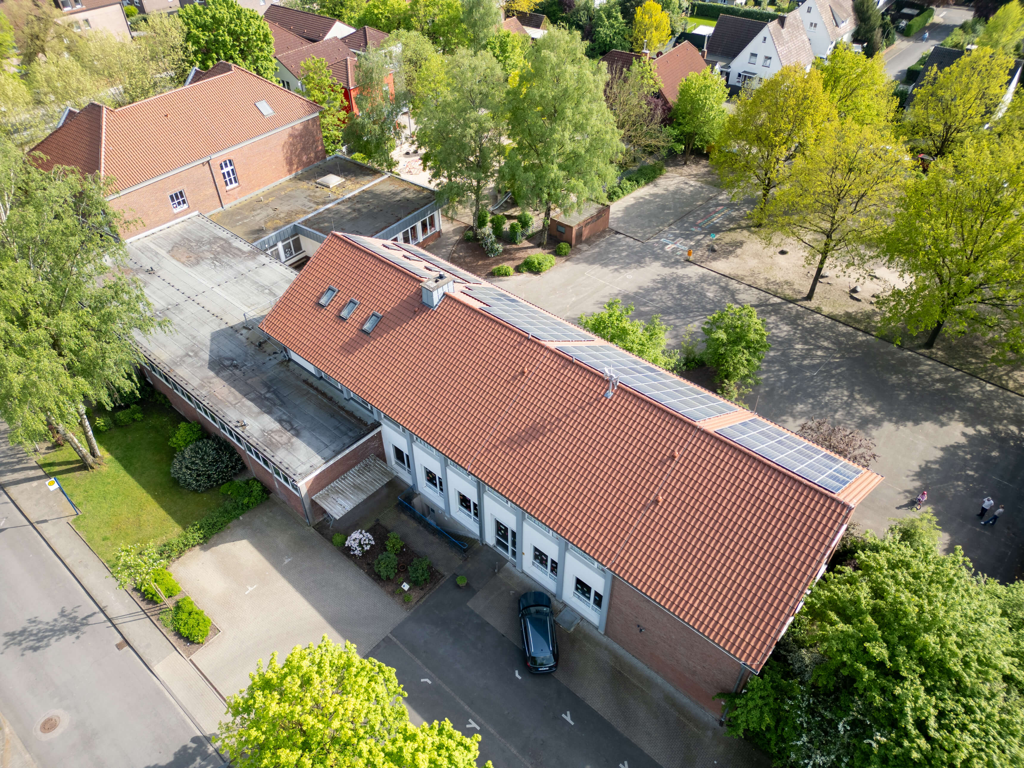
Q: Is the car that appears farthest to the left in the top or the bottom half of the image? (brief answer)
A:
bottom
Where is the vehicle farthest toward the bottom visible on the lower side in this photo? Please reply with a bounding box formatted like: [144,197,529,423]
[516,595,563,679]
